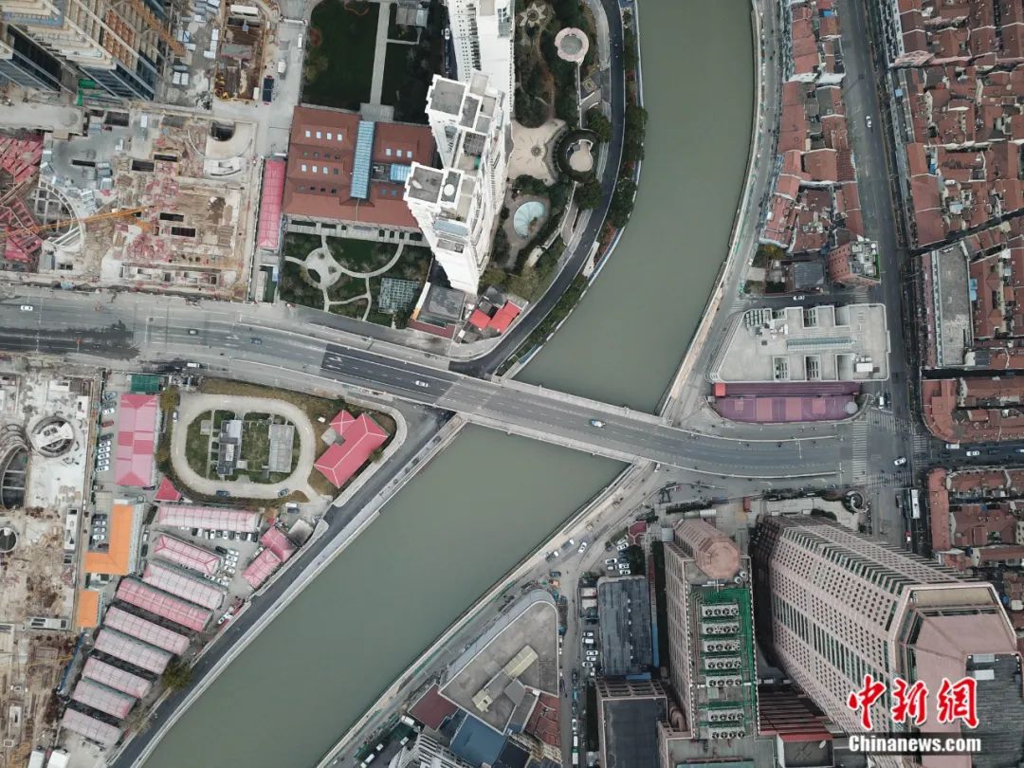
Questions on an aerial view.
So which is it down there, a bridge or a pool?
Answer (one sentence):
Of the two, only a bridge appears.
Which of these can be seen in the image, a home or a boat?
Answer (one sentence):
The image shows a home.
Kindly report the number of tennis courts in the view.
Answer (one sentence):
I count no tennis courts.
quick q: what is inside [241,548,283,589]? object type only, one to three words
house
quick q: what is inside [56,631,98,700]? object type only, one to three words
shed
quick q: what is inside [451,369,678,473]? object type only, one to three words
bridge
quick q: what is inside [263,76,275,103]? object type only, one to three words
vehicle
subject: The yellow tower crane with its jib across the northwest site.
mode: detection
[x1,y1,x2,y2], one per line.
[0,201,155,240]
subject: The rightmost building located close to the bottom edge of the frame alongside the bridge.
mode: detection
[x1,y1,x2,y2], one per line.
[749,506,1024,768]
